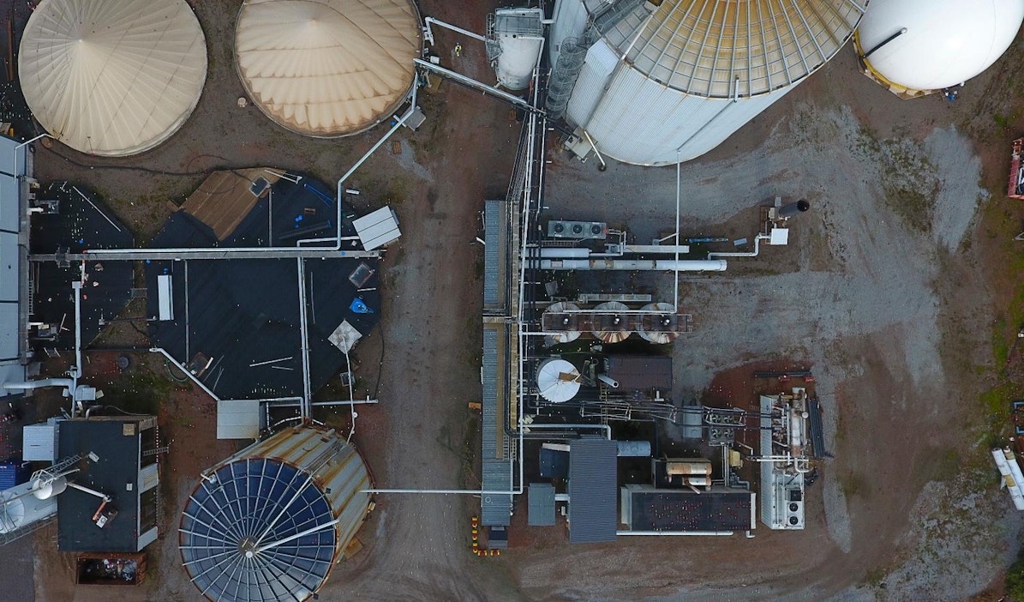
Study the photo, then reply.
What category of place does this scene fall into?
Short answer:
industrial area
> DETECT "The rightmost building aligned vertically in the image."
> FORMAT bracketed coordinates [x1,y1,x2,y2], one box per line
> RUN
[565,437,617,542]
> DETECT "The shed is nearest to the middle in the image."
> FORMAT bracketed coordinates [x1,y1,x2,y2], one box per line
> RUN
[482,201,505,311]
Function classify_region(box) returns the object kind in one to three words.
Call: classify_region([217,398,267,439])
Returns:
shed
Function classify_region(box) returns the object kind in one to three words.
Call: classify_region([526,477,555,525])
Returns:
shed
